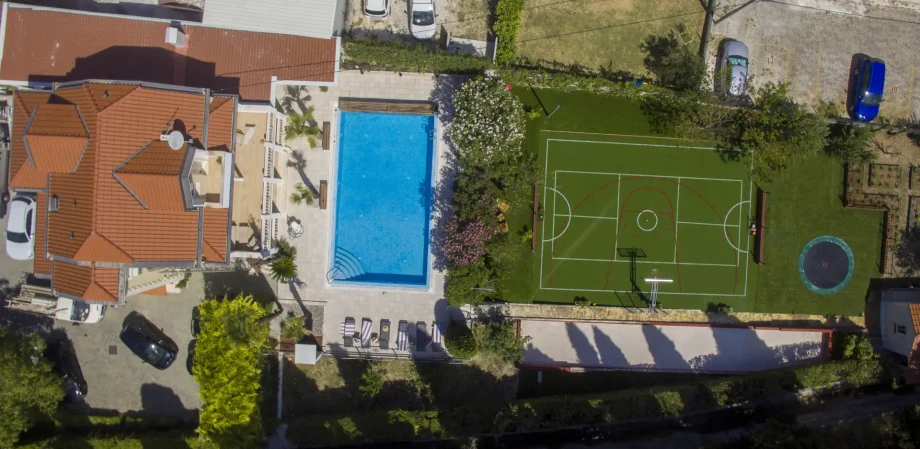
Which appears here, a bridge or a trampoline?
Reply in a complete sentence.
I can see a trampoline in this picture.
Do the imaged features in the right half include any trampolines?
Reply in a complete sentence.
Yes, a trampoline is visible in the right half.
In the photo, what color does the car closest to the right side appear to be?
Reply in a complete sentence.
The color of the car closest to the right side is blue.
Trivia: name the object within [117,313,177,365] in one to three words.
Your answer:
car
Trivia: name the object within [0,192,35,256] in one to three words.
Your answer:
car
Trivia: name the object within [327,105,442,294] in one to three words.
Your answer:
swimming pool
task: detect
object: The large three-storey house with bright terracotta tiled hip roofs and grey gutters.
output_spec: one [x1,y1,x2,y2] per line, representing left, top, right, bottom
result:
[4,79,298,306]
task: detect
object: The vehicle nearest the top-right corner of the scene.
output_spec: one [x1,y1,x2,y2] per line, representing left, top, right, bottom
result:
[848,55,889,119]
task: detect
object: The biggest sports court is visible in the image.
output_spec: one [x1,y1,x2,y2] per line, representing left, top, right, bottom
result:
[455,82,887,318]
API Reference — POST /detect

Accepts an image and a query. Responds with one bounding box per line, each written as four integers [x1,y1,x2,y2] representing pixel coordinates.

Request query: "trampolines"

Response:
[797,237,854,293]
